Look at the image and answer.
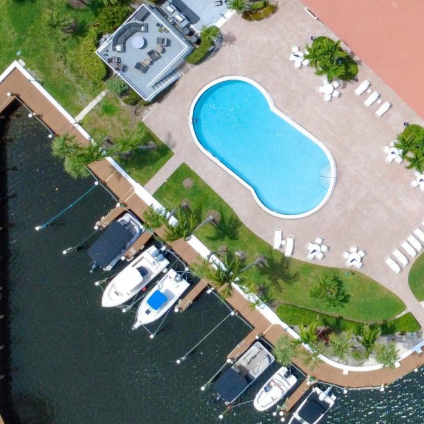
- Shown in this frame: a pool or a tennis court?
pool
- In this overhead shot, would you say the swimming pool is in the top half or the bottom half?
top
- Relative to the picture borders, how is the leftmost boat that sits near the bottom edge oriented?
on a diagonal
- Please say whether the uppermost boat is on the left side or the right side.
left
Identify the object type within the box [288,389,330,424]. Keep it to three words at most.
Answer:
boat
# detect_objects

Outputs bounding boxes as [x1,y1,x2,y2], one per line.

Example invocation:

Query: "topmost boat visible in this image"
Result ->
[84,215,144,270]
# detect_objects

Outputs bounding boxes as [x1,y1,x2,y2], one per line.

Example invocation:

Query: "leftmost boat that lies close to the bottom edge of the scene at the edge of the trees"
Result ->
[211,342,273,406]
